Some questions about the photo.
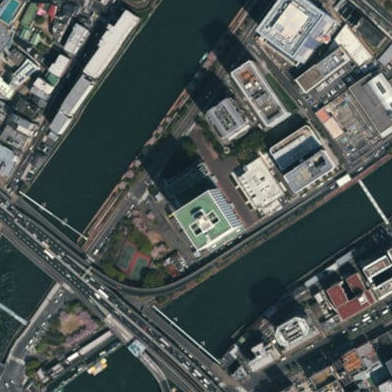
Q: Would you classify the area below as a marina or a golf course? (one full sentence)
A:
The picture captures a marina.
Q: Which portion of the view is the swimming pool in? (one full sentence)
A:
You can find the swimming pool in the top left area of the picture.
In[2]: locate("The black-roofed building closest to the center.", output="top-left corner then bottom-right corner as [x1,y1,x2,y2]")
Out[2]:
[155,155,202,198]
